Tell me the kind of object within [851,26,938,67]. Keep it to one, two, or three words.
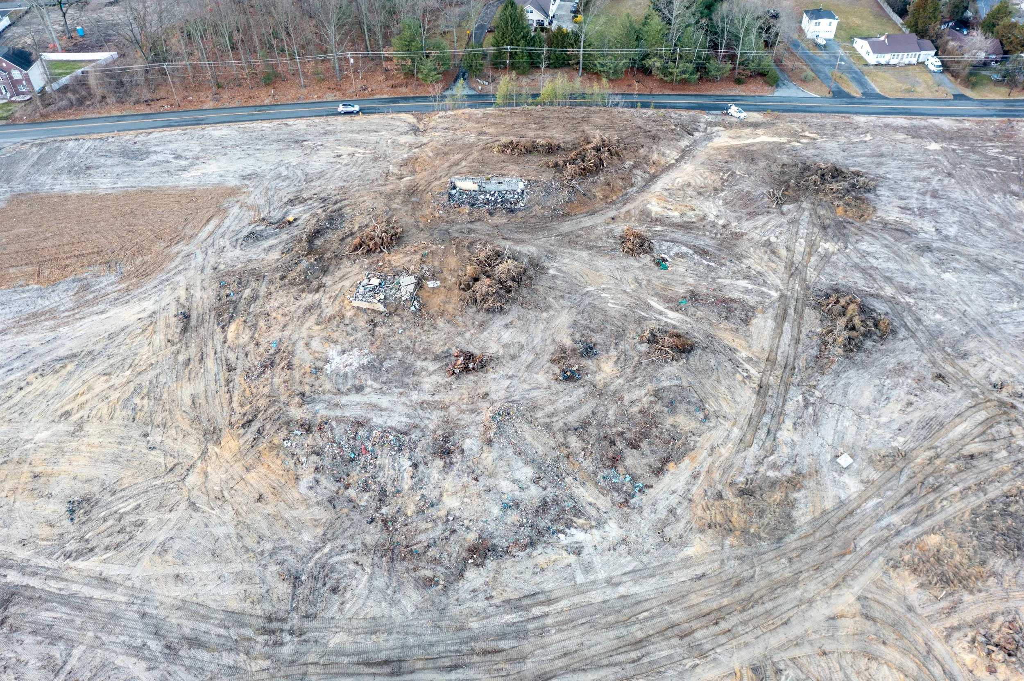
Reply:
house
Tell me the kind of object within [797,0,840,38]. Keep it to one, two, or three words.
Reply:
house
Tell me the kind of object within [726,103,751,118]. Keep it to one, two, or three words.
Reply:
car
